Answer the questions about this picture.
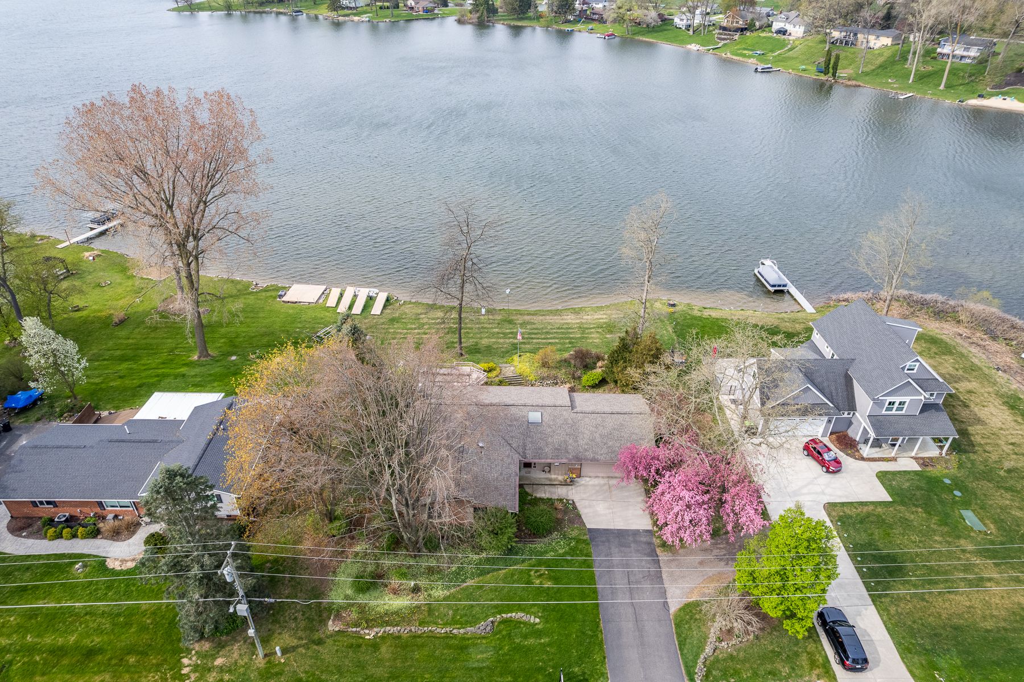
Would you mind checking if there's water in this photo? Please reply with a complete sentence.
Yes, some water is visible.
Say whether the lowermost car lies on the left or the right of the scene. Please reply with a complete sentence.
You can find the lowermost car on the right side of the picture.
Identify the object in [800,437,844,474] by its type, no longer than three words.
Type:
car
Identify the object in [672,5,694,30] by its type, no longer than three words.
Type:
house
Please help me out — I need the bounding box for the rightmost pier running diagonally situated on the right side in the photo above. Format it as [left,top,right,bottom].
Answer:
[760,257,818,315]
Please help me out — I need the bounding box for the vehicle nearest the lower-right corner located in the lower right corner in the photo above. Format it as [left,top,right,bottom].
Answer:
[815,607,872,673]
